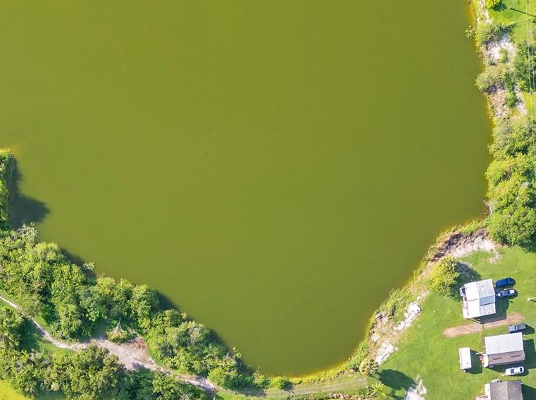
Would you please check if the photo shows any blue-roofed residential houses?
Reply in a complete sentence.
No, the picture doesn't show any blue-roofed residential house.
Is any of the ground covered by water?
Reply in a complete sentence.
Yes, some water is visible.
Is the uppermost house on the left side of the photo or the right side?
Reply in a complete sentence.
The uppermost house is on the right side of the image.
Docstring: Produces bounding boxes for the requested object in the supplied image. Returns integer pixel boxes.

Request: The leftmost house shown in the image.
[453,280,497,318]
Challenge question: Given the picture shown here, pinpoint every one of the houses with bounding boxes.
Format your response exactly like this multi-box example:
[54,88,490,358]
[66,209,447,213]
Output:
[453,280,497,318]
[480,379,523,400]
[479,332,526,368]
